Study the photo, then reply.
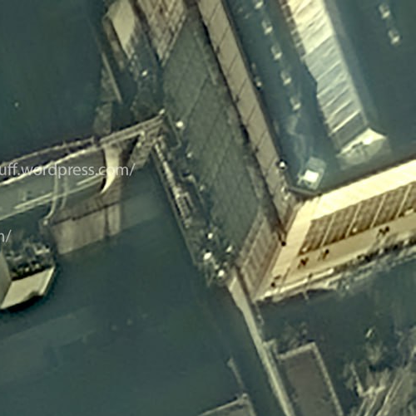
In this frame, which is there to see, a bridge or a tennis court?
bridge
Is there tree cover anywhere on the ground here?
No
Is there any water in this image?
Yes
